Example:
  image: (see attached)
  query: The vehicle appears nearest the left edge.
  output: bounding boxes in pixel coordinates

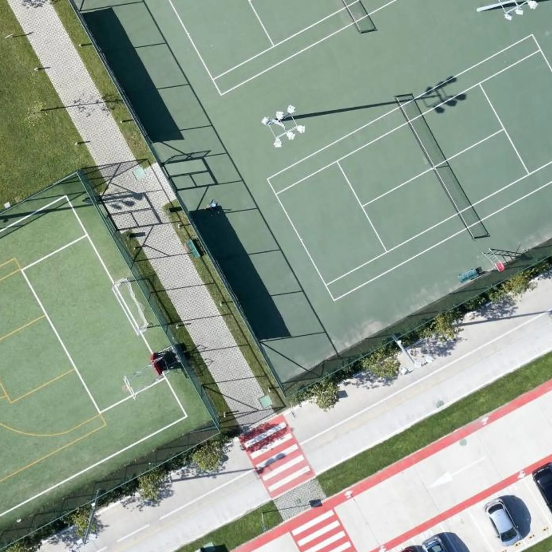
[427,533,455,552]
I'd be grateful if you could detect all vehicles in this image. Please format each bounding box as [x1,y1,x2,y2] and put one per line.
[532,461,552,511]
[427,533,455,552]
[482,494,523,547]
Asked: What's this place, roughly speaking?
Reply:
sports ground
